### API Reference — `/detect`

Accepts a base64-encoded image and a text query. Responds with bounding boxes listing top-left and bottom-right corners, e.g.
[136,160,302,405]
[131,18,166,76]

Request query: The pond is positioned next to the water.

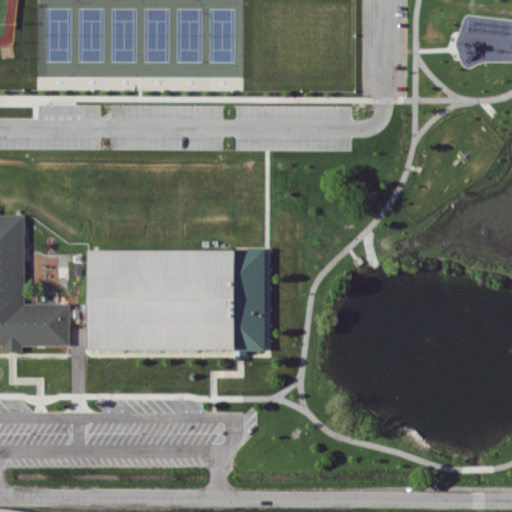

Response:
[328,268,512,454]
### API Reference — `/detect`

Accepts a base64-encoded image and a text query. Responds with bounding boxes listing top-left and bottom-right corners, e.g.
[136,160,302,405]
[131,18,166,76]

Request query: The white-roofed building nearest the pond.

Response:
[87,250,238,351]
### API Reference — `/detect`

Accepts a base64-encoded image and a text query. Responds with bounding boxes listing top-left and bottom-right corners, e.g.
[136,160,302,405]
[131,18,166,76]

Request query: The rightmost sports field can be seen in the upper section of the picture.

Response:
[244,0,361,94]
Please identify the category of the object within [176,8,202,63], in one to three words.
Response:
tennis court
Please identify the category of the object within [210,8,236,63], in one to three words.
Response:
tennis court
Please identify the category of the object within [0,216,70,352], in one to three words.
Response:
building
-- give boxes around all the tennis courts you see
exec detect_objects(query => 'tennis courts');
[78,8,104,63]
[176,8,202,63]
[145,8,170,63]
[110,8,137,63]
[210,8,236,63]
[45,8,72,63]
